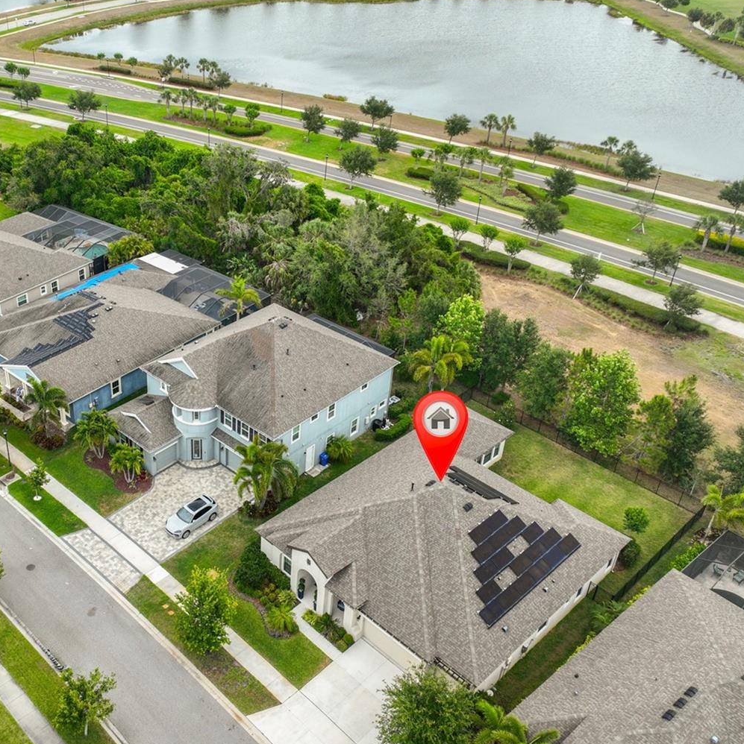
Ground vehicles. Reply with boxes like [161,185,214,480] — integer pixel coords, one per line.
[23,20,35,26]
[164,497,223,543]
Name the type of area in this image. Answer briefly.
residential area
